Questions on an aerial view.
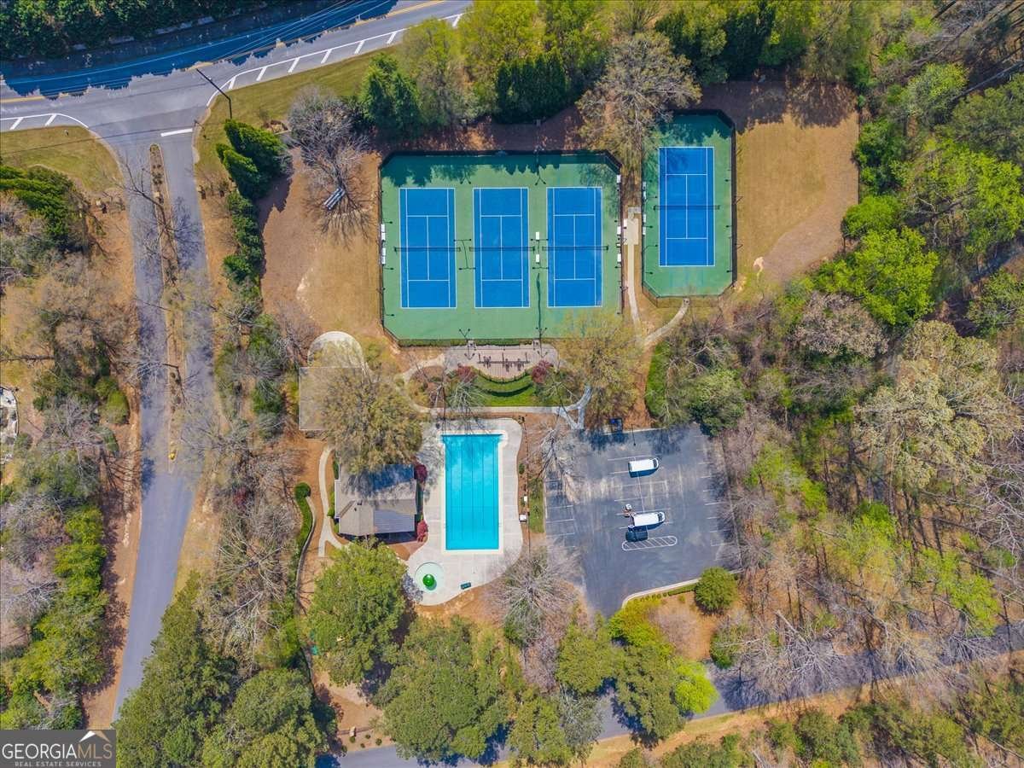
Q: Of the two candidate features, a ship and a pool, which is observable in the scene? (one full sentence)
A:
The image shows a pool.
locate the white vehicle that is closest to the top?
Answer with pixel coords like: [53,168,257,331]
[629,459,660,473]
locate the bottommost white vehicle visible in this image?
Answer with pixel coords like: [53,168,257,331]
[631,514,665,532]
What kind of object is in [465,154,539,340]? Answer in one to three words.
tennis court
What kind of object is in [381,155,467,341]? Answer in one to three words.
tennis court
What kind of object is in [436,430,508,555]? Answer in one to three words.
swimming pool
